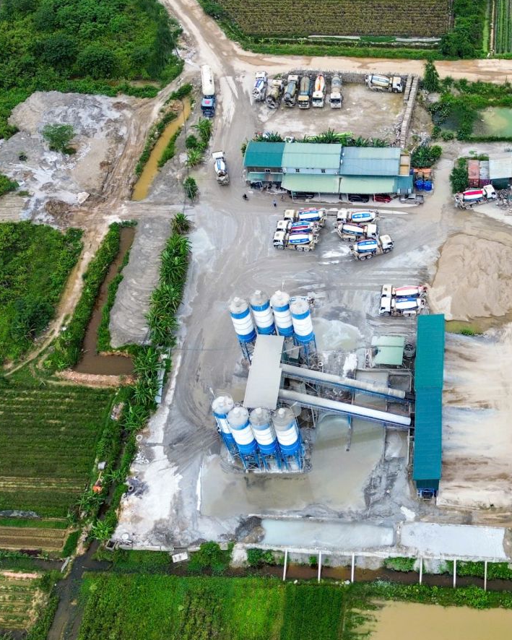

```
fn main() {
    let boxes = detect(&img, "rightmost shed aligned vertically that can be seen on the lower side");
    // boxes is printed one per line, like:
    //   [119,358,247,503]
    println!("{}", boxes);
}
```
[413,314,443,491]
